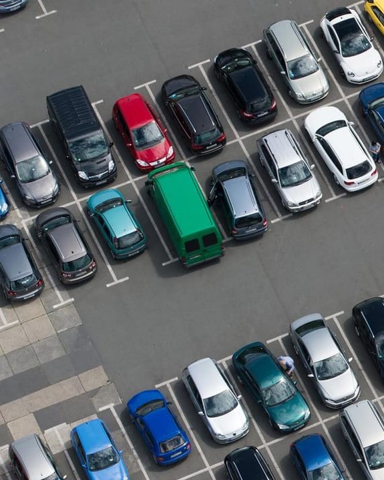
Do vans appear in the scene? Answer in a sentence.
Yes, I can see a van in this picture.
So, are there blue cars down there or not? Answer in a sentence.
Yes, you can see a blue car in this photo.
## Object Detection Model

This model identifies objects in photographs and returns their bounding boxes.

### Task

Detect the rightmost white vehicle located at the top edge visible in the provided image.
[321,5,383,86]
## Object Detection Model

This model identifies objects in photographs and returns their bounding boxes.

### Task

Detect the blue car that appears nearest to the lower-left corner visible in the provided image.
[72,418,127,480]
